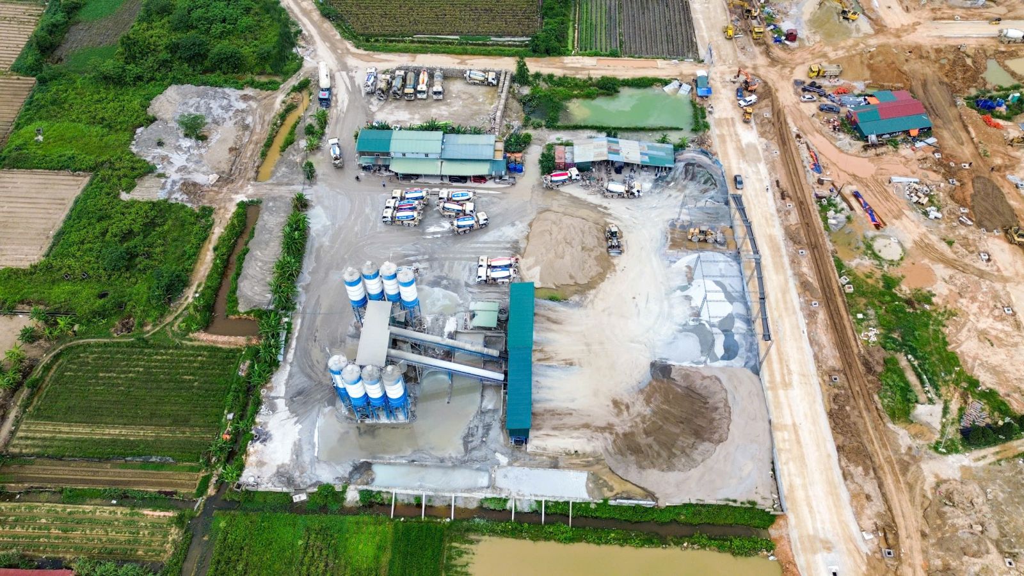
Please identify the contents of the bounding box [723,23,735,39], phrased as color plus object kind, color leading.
yellow vehicle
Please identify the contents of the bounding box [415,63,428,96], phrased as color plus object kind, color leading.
white vehicle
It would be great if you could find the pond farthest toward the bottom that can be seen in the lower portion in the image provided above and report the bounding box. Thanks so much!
[470,538,781,576]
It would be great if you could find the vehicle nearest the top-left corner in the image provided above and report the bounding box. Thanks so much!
[316,57,329,109]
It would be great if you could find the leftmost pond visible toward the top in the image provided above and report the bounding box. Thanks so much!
[561,86,695,134]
